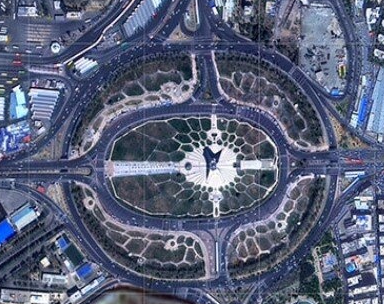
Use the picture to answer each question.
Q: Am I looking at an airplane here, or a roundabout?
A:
roundabout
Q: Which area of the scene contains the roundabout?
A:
center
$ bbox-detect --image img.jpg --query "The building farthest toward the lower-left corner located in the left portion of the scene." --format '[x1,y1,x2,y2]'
[1,289,28,304]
